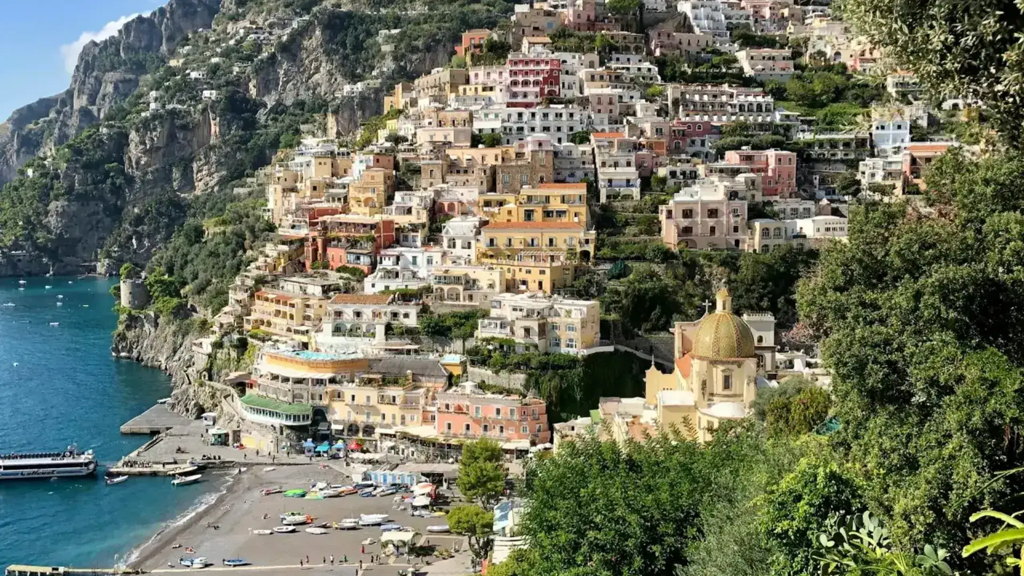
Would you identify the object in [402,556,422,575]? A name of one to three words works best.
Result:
umbrella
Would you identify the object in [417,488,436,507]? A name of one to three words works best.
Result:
umbrella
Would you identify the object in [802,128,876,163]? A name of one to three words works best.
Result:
house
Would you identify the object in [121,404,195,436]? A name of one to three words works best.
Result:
pier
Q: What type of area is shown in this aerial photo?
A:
residential area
